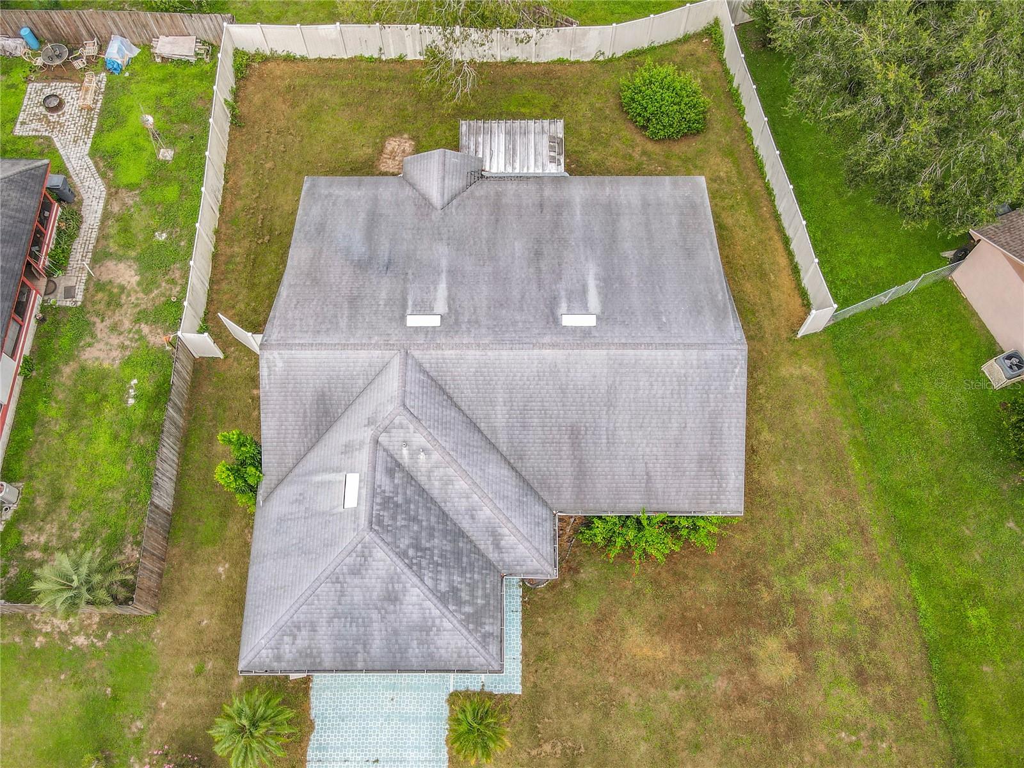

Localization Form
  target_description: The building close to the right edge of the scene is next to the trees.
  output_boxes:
[948,211,1024,359]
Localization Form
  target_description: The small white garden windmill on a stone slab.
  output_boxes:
[143,112,172,159]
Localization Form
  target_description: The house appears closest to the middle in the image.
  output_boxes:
[239,146,746,674]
